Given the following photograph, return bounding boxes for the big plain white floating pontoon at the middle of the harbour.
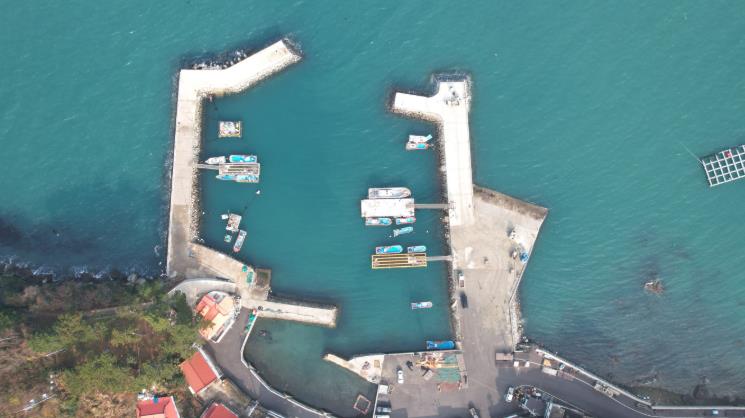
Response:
[361,199,414,217]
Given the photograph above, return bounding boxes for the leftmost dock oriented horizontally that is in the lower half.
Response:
[241,297,337,328]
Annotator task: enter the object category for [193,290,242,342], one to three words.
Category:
house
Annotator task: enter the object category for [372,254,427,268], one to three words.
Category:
pier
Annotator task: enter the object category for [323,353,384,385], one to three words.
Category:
pier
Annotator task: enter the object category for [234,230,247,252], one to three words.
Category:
boat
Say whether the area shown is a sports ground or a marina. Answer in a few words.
marina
